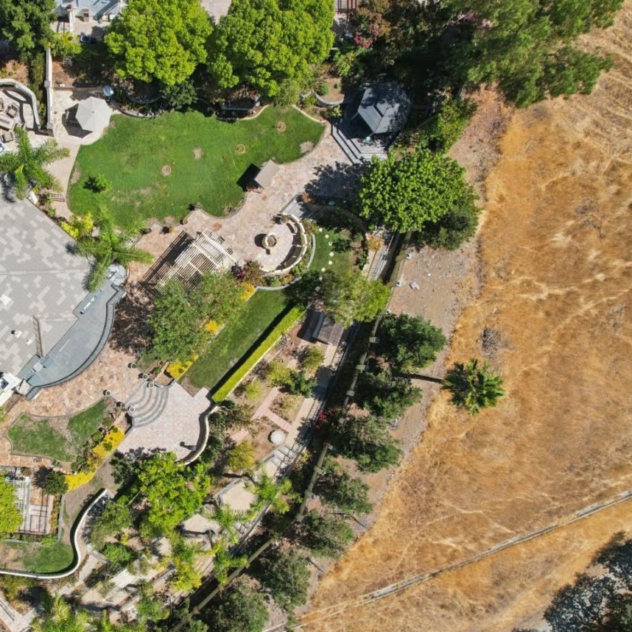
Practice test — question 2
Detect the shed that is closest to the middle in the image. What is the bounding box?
[307,309,346,348]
